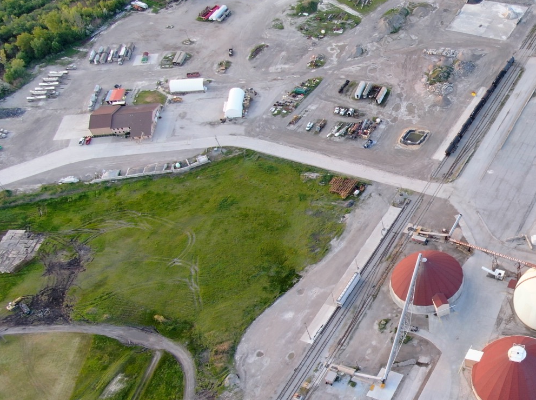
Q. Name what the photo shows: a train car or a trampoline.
train car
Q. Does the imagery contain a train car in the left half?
No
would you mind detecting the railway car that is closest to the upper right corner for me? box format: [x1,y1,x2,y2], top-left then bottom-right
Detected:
[501,54,514,72]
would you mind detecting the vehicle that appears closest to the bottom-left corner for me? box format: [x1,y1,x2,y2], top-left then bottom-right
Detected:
[1,290,37,310]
